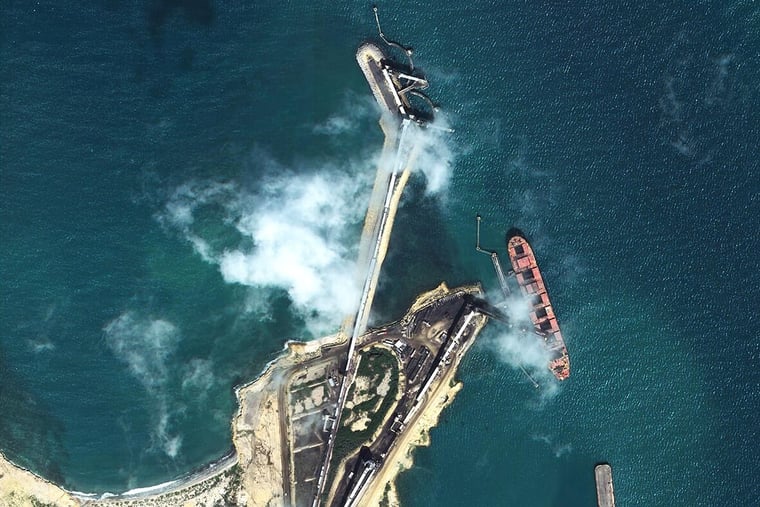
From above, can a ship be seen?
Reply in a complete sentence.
Yes, there is a ship in the image.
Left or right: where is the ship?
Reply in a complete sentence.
You can find the ship on the right side of the picture.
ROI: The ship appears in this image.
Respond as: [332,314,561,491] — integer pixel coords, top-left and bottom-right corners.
[510,236,571,382]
